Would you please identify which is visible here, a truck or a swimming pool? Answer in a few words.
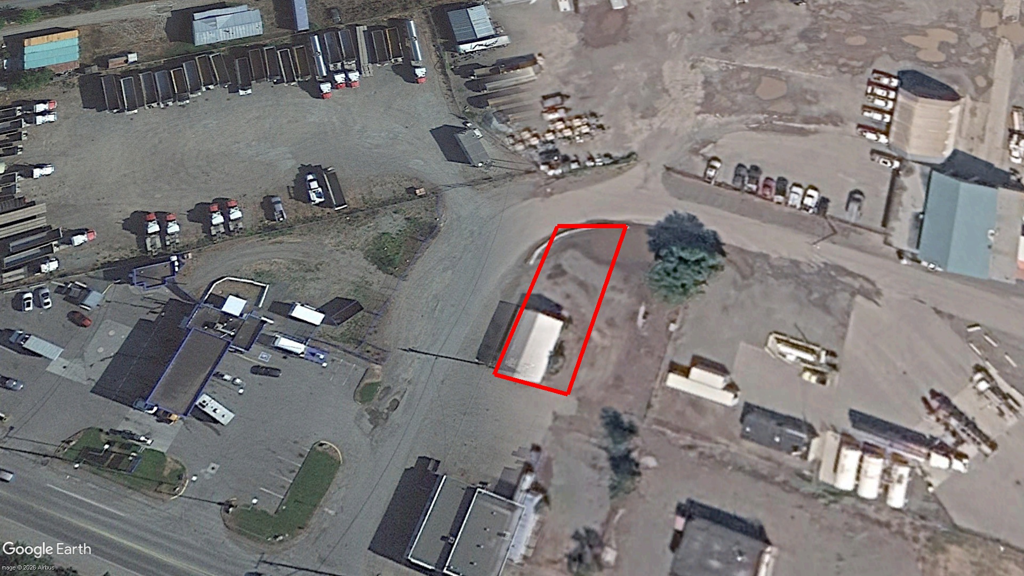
truck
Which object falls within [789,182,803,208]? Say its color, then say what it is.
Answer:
white car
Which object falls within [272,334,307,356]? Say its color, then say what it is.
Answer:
white truck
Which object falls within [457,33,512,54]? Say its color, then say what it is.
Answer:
white trailer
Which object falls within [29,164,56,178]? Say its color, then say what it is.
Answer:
white vehicle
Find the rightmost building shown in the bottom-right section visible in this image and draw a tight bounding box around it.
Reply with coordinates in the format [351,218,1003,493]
[740,411,812,455]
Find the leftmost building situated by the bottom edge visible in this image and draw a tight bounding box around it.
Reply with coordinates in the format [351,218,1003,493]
[409,475,477,570]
